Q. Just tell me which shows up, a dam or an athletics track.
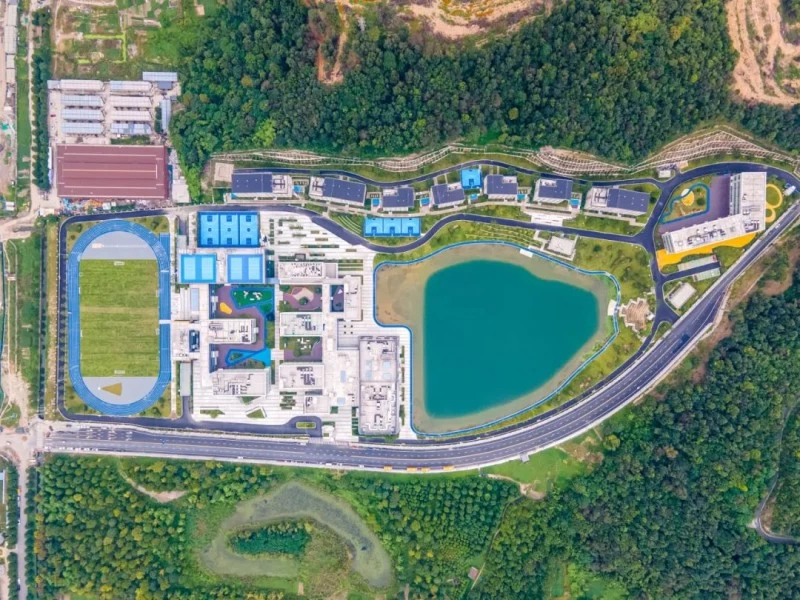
athletics track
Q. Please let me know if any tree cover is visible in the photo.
Yes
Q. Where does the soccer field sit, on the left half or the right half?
left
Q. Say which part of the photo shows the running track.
left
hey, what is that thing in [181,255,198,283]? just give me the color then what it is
blue tennis court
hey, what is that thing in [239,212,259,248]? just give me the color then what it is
blue basketball court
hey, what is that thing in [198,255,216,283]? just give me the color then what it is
blue tennis court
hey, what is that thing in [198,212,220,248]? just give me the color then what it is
blue basketball court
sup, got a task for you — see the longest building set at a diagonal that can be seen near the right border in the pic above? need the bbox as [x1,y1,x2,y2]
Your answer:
[660,172,767,255]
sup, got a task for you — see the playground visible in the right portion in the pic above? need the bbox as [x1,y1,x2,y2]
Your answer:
[662,184,710,223]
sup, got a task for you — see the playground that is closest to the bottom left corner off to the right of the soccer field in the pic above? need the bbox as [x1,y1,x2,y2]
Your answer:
[214,284,275,370]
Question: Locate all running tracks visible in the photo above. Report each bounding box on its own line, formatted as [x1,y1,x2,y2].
[67,220,170,416]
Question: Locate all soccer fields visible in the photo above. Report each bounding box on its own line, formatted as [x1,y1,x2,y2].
[79,259,159,377]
